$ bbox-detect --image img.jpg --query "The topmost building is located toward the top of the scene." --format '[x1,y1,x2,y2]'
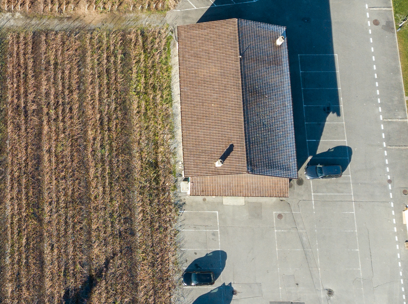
[177,18,300,179]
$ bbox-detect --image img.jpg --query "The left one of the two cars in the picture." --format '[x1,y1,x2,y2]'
[183,269,218,288]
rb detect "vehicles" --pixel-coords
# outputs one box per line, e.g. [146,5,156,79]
[183,269,218,288]
[307,164,348,182]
